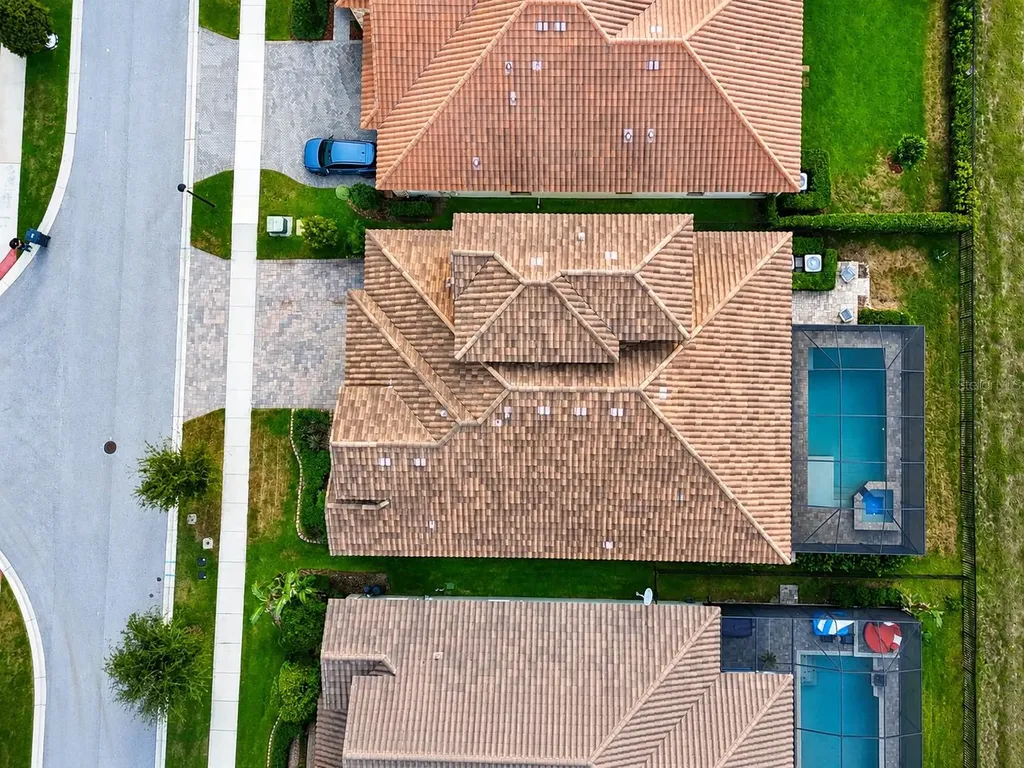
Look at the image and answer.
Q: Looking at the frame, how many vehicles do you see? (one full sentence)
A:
In total, there is 1 vehicle in the scene.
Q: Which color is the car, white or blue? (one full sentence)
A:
The car looks blue in the image.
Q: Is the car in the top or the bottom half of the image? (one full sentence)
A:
Seen from above, the car lies in the top half of the view.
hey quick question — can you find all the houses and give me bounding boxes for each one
[334,0,805,203]
[304,593,797,768]
[325,211,797,565]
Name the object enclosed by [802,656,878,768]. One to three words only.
swimming pool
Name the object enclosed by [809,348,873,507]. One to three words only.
swimming pool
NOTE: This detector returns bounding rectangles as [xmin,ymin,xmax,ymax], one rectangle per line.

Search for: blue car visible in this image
[305,135,377,177]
